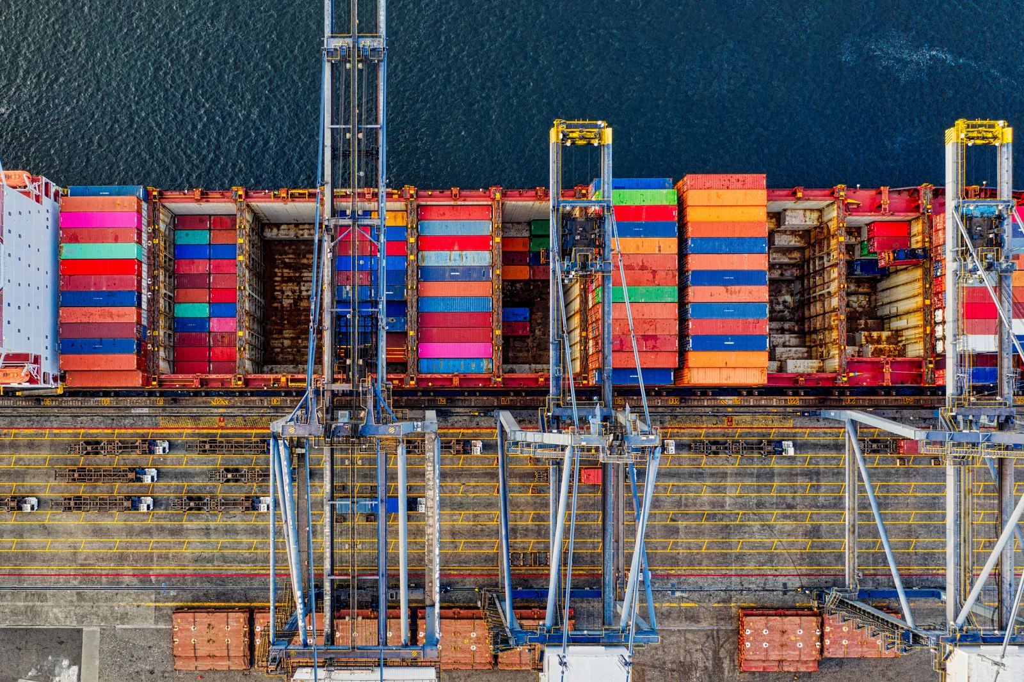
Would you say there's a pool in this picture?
No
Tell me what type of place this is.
port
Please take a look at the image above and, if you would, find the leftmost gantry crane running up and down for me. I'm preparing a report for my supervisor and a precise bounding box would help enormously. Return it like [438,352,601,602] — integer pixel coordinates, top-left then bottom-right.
[251,0,456,682]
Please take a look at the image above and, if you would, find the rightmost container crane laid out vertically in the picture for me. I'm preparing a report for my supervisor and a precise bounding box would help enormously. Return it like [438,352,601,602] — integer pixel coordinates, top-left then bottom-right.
[797,116,1024,682]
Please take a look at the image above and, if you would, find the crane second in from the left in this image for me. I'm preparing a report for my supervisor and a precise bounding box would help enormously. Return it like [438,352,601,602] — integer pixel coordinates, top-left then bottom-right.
[469,116,669,682]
